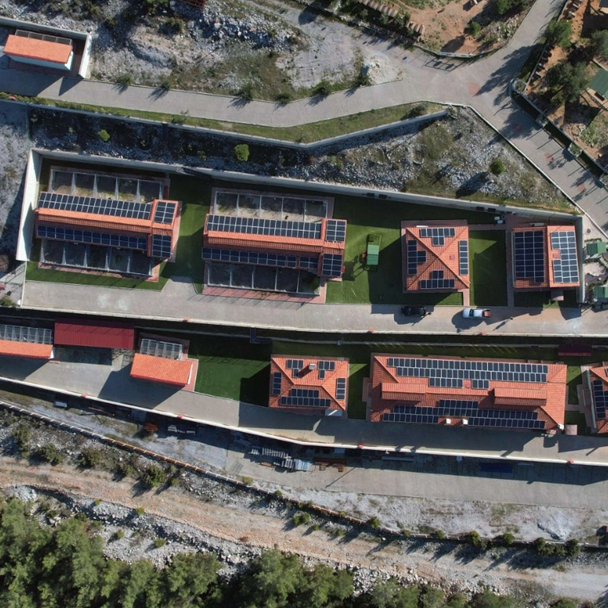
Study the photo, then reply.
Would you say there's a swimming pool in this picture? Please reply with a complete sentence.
No, no swimming pool is visible in the view.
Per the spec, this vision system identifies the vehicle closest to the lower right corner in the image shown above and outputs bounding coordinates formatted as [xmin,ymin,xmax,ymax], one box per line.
[461,307,493,320]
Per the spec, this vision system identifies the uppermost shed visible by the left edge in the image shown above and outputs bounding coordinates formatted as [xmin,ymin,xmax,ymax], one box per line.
[3,25,86,80]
